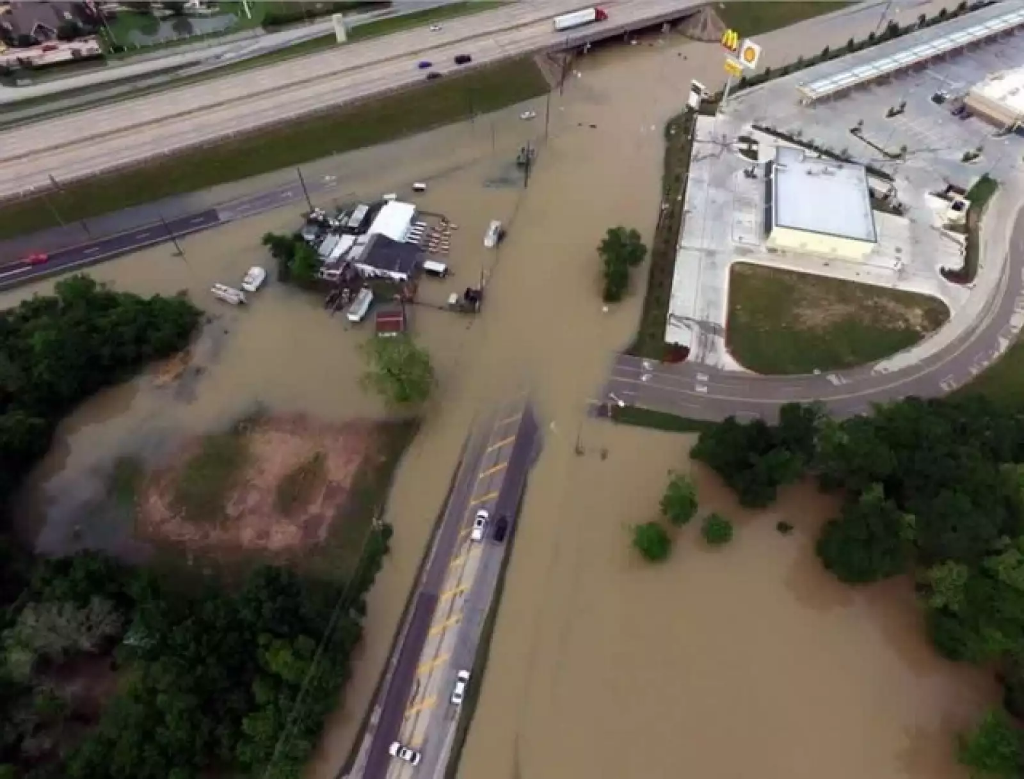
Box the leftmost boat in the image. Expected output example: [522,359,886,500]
[208,284,247,304]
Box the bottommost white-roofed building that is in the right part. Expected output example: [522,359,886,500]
[763,150,872,262]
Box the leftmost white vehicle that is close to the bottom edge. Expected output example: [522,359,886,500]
[388,742,422,767]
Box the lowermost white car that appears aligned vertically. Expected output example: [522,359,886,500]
[450,672,468,705]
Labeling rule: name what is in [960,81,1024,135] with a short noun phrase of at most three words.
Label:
building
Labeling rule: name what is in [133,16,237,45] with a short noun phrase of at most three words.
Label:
pond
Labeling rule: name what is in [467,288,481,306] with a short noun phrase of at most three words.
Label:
work vehicle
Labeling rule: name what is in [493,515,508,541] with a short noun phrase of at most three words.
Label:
car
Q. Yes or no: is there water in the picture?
Yes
